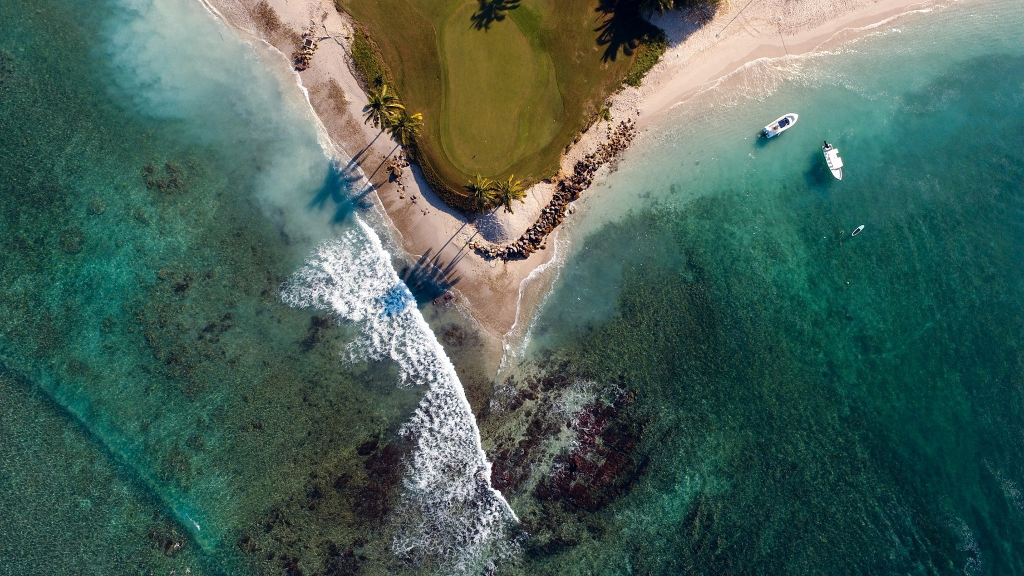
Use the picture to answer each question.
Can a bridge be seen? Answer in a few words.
No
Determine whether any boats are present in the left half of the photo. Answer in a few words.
No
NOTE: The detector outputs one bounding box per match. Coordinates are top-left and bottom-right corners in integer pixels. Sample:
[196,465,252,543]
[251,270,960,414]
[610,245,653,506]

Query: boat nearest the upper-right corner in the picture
[821,141,846,180]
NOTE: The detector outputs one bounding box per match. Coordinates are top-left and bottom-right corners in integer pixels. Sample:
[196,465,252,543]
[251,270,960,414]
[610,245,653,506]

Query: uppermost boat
[762,113,800,139]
